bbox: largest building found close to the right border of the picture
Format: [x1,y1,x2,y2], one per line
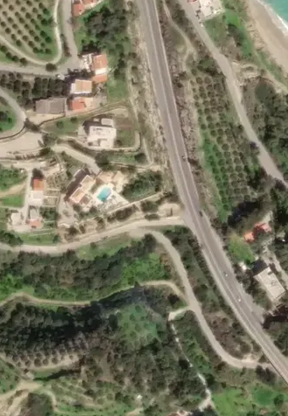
[253,268,284,302]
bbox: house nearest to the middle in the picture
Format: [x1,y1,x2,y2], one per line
[69,170,126,210]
